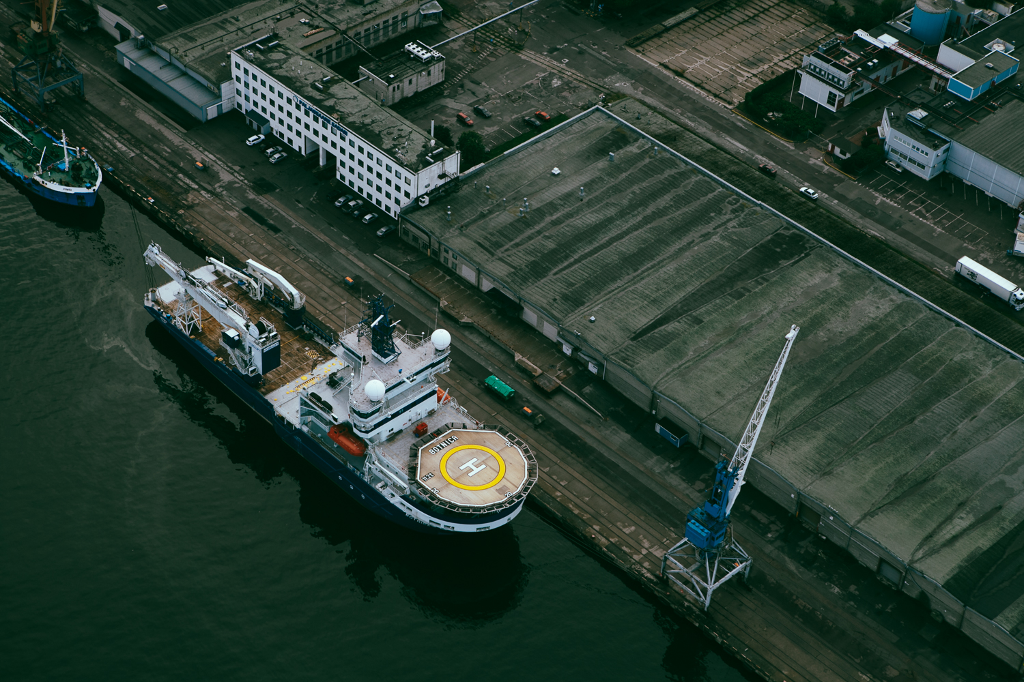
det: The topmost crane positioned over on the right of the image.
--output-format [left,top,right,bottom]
[655,324,797,614]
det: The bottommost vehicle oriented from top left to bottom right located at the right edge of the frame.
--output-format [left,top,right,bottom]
[955,256,1024,313]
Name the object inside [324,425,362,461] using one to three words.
boat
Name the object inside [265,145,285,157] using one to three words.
vehicle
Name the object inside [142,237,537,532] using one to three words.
ship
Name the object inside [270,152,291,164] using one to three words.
vehicle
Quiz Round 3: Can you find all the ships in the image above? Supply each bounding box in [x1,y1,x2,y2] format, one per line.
[0,96,100,208]
[142,237,537,532]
